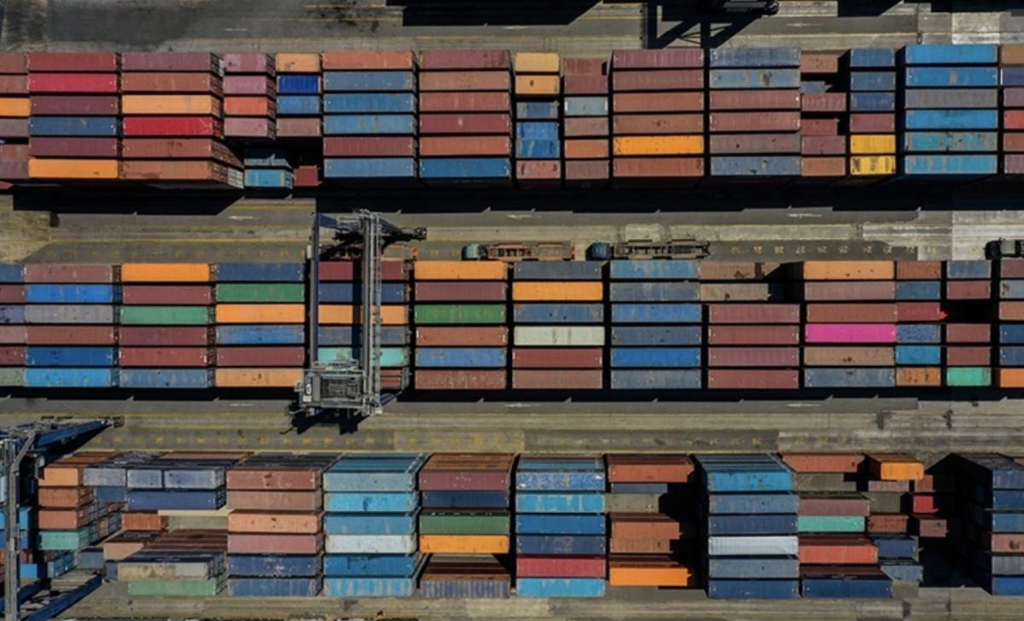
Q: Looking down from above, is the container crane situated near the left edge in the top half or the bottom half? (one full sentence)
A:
It is in the bottom half that the container crane situated near the left edge appears.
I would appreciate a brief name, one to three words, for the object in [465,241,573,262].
truck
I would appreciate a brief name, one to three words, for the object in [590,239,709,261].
truck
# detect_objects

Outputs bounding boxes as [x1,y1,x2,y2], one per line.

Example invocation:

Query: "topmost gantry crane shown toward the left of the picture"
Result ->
[281,206,429,421]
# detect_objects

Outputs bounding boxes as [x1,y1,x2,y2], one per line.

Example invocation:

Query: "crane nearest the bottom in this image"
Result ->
[0,415,130,621]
